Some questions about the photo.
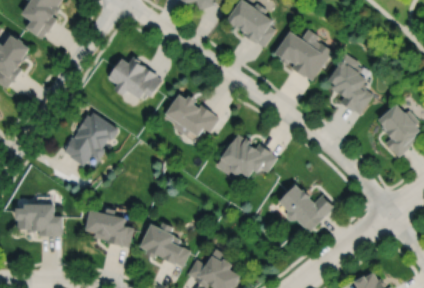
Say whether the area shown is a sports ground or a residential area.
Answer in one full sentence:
This looks like a residential area.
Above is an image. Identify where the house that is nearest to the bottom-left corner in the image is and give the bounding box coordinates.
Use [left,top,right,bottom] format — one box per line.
[16,204,64,237]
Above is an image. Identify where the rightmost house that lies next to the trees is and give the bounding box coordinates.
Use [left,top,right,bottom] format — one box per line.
[378,106,420,157]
